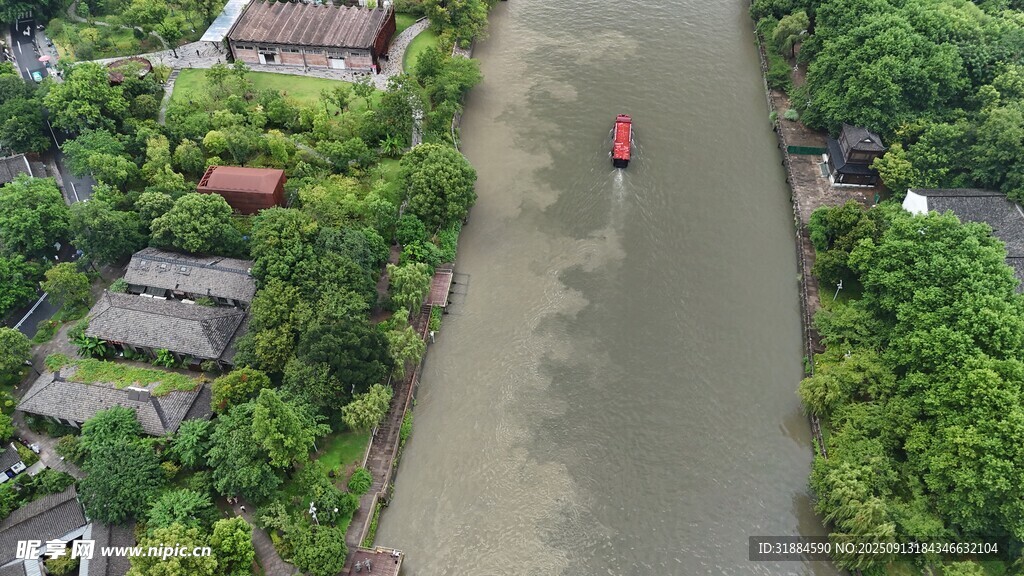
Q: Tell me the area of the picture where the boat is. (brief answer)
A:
top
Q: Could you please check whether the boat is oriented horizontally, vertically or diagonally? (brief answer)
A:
vertically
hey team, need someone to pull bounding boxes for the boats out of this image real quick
[609,112,632,171]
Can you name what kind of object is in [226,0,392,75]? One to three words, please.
building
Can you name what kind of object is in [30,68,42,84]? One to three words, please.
vehicle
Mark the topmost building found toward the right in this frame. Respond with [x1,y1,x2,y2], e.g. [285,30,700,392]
[828,123,895,188]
